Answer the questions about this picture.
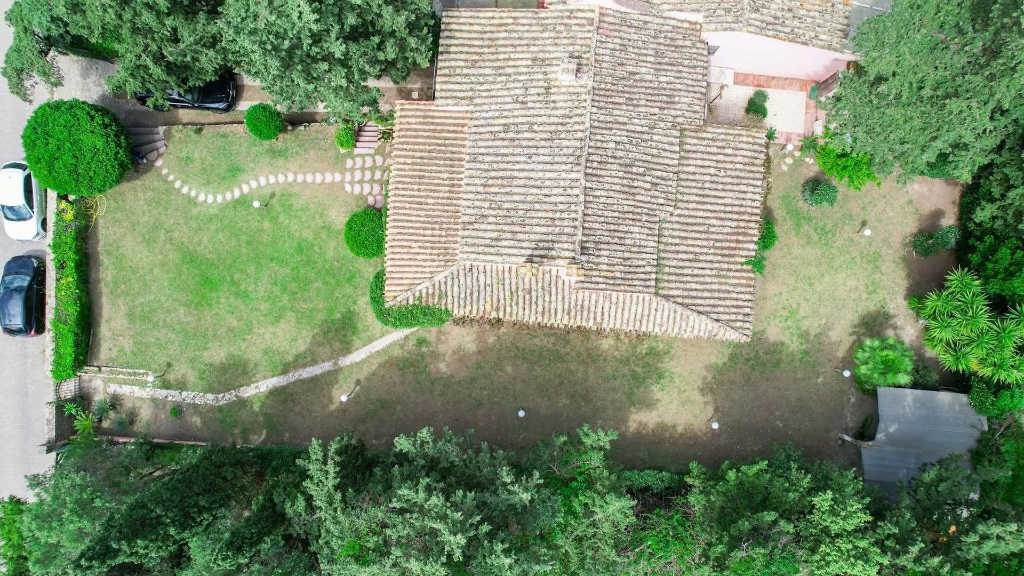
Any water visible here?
No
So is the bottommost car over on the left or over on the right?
left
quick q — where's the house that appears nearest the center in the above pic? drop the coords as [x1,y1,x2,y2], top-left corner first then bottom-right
[383,5,770,345]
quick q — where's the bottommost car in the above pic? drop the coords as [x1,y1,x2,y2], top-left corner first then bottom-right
[0,255,45,337]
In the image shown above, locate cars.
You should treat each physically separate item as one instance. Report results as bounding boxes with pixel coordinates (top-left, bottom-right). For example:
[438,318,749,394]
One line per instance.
[0,161,48,241]
[0,255,45,337]
[135,73,239,116]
